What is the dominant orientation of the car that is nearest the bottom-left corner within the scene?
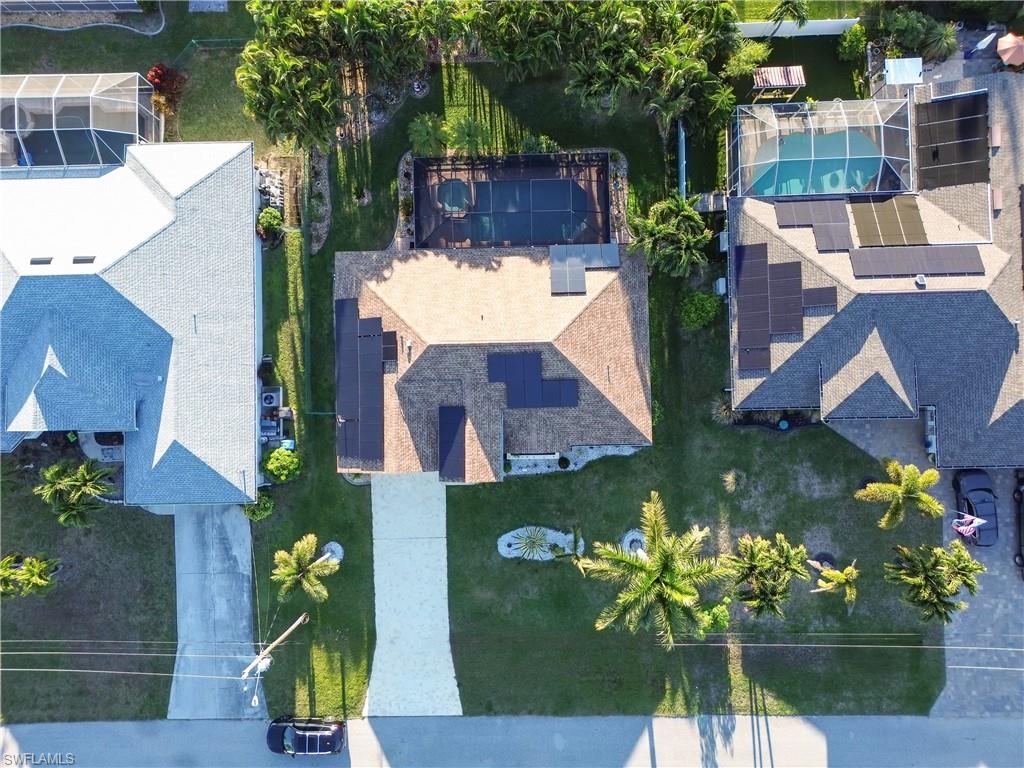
from left to right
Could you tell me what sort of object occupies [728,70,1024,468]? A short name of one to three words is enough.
house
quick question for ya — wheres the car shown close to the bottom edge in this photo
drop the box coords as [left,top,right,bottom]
[267,716,348,758]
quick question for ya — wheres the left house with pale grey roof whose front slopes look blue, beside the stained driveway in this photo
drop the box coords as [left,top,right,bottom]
[0,142,263,504]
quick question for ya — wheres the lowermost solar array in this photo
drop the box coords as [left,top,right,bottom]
[439,406,464,481]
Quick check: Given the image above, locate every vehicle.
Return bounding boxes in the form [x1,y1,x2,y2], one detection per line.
[267,716,348,758]
[952,469,999,548]
[1012,478,1024,571]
